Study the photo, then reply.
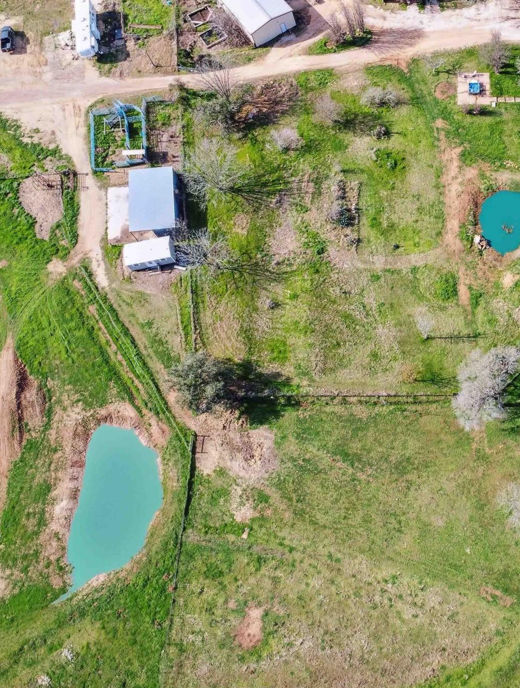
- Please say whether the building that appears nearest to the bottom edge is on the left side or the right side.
left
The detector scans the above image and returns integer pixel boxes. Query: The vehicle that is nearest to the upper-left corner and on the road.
[0,25,16,54]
